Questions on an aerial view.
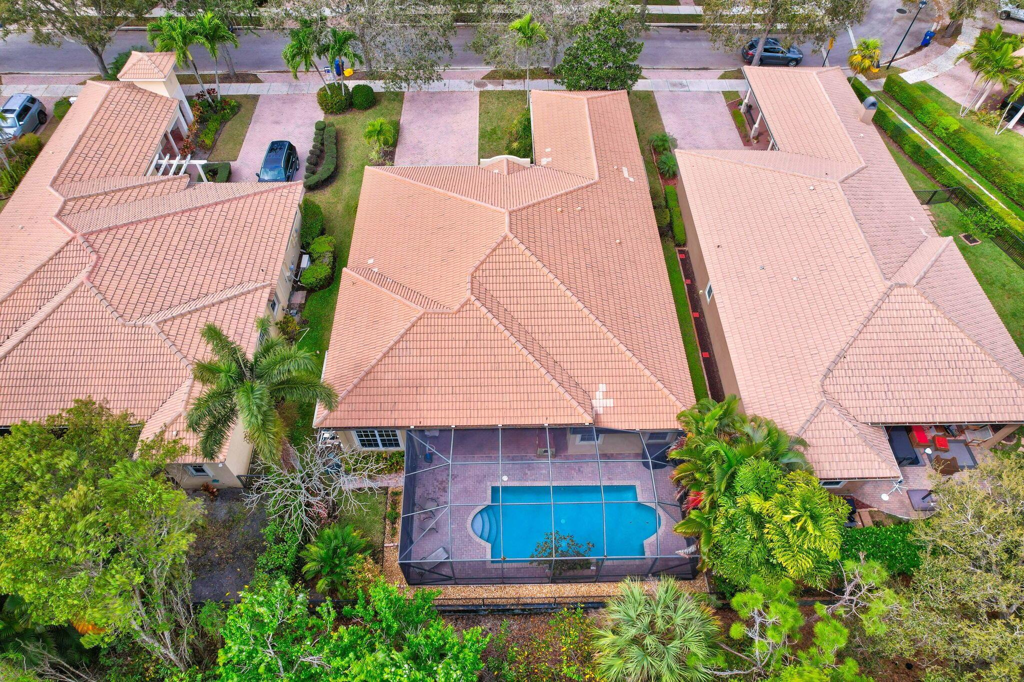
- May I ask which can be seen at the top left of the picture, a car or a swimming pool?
car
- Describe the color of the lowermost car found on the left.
blue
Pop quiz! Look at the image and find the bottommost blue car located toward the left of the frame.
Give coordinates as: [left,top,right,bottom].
[247,136,297,182]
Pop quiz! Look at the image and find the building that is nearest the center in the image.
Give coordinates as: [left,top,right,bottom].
[309,88,703,454]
